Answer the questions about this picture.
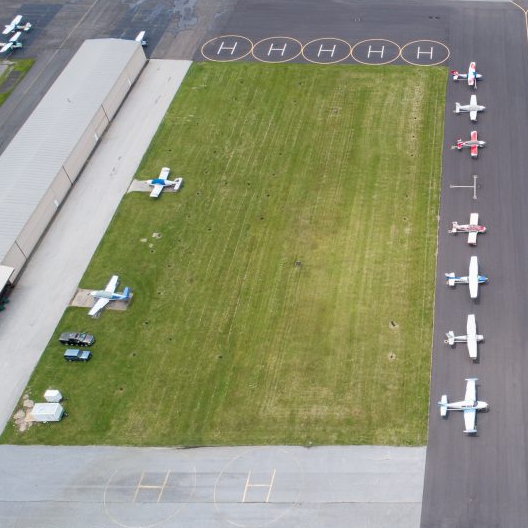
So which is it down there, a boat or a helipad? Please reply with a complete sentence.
I can see a helipad in this picture.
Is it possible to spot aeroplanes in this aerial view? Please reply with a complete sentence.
Yes, there's an aeroplane down there.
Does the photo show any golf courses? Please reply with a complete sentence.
No, this view has no golf course in it.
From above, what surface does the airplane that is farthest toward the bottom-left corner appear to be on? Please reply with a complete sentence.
In this view, the airplane that is farthest toward the bottom-left corner is located on the grass.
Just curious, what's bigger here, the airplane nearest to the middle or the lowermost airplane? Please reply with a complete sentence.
Of the two, the lowermost airplane is bigger, while the airplane nearest to the middle is smaller.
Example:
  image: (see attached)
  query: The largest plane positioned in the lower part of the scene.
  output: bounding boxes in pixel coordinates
[440,379,488,431]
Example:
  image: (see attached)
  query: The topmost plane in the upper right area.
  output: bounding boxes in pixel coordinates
[452,62,483,84]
